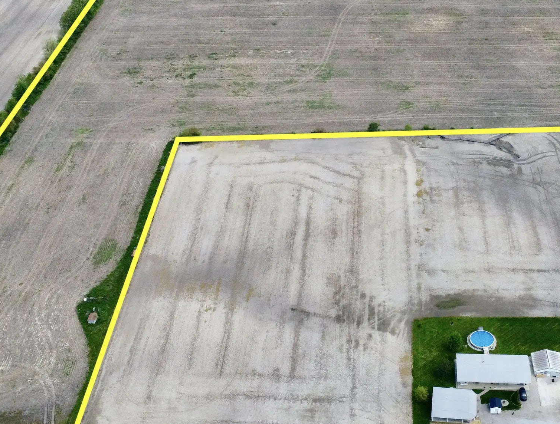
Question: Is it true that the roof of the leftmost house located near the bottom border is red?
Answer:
No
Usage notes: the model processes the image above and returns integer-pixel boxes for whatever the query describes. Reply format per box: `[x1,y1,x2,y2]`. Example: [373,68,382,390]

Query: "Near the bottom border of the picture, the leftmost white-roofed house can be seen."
[432,387,477,424]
